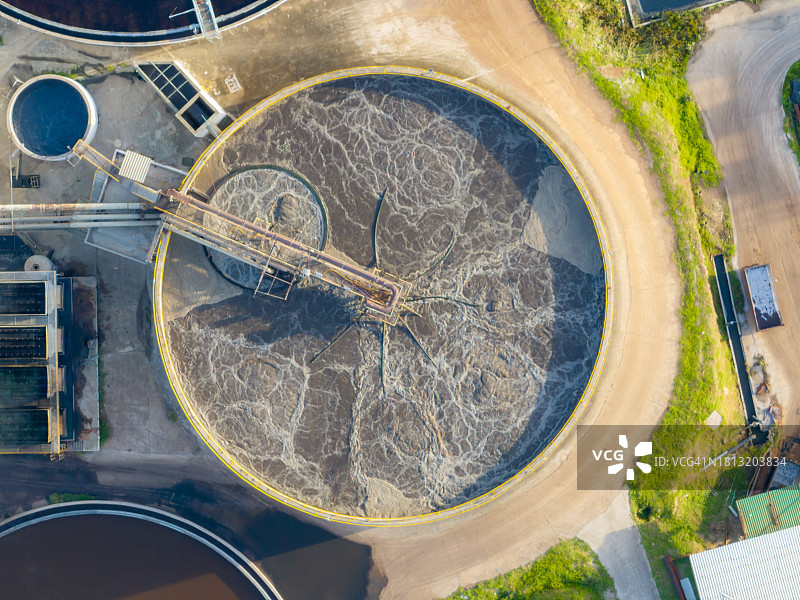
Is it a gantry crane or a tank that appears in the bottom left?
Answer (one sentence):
The one visible in the bottom left is a tank.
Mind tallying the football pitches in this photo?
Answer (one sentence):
Not a single football pitch can be seen.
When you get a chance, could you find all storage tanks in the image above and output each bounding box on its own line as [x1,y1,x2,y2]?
[0,0,293,51]
[152,67,610,525]
[0,498,288,600]
[7,73,101,163]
